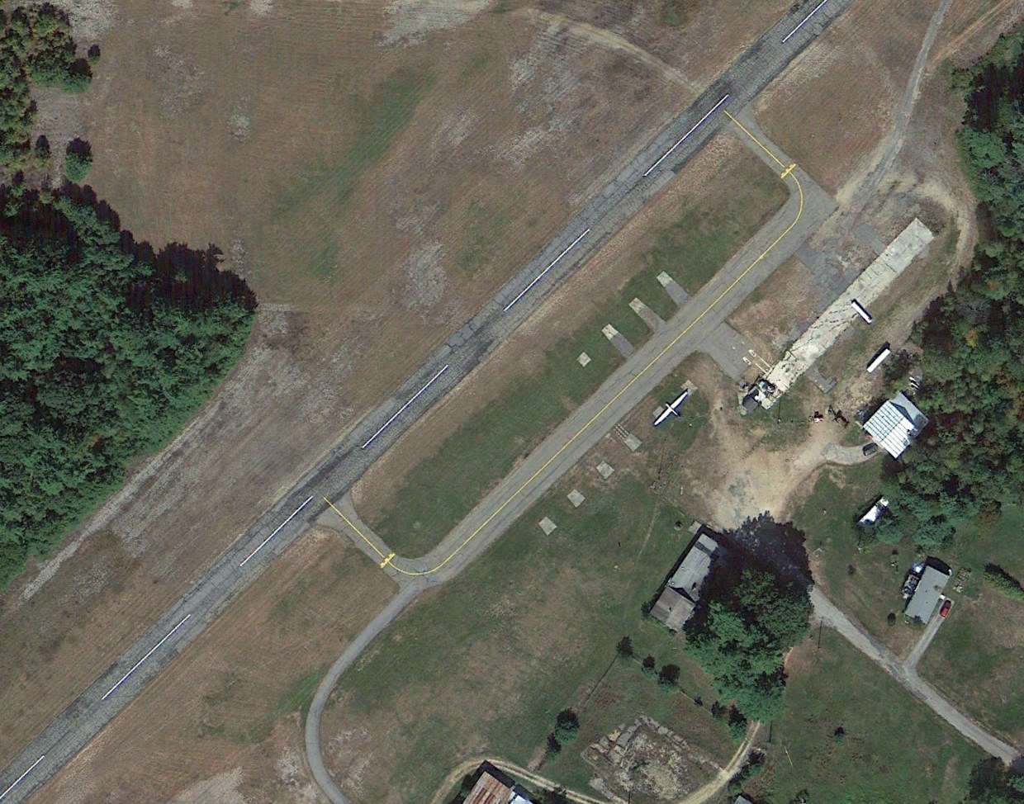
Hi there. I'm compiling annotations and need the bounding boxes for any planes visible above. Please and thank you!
[655,391,687,426]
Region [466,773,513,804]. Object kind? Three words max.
barn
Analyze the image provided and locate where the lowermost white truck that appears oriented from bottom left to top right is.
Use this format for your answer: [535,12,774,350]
[857,500,889,525]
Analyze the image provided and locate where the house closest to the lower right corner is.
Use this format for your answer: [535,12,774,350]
[906,564,951,624]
